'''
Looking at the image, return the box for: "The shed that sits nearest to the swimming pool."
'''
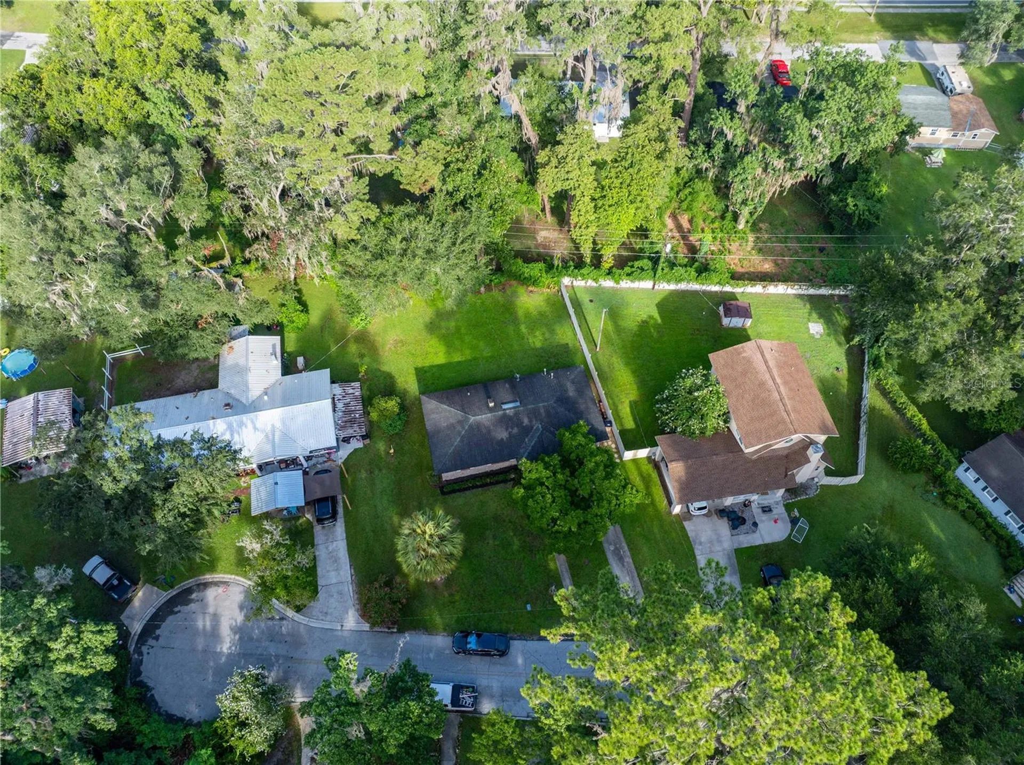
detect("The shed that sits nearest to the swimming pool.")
[1,389,83,476]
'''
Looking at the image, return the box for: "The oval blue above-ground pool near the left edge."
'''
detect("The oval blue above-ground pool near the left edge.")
[3,353,45,381]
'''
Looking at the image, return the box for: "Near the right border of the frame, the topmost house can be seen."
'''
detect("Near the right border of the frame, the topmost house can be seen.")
[892,86,1006,155]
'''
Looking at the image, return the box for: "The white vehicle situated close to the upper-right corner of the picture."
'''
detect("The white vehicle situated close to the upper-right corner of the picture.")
[935,66,973,91]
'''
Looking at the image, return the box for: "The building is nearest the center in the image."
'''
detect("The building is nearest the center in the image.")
[421,366,609,497]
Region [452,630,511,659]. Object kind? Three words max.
car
